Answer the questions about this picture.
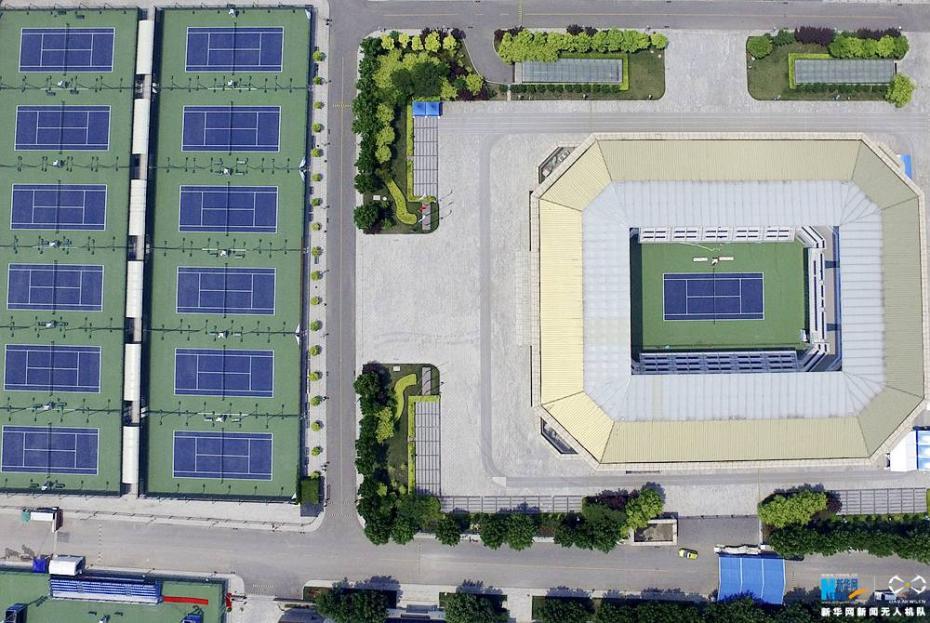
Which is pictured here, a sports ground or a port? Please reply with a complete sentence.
It's a sports ground.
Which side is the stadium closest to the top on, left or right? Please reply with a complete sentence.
The stadium closest to the top appears in the right half of the scene.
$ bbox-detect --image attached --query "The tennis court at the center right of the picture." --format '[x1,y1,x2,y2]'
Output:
[661,267,766,325]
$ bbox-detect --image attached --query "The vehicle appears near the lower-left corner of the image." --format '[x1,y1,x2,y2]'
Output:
[22,509,51,523]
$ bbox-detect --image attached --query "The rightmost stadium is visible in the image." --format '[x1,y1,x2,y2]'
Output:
[514,133,930,472]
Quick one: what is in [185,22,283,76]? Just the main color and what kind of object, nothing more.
blue tennis court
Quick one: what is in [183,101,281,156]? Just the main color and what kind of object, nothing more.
blue tennis court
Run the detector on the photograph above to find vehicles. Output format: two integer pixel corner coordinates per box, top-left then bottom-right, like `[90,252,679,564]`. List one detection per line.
[872,590,900,602]
[678,549,698,560]
[22,509,51,523]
